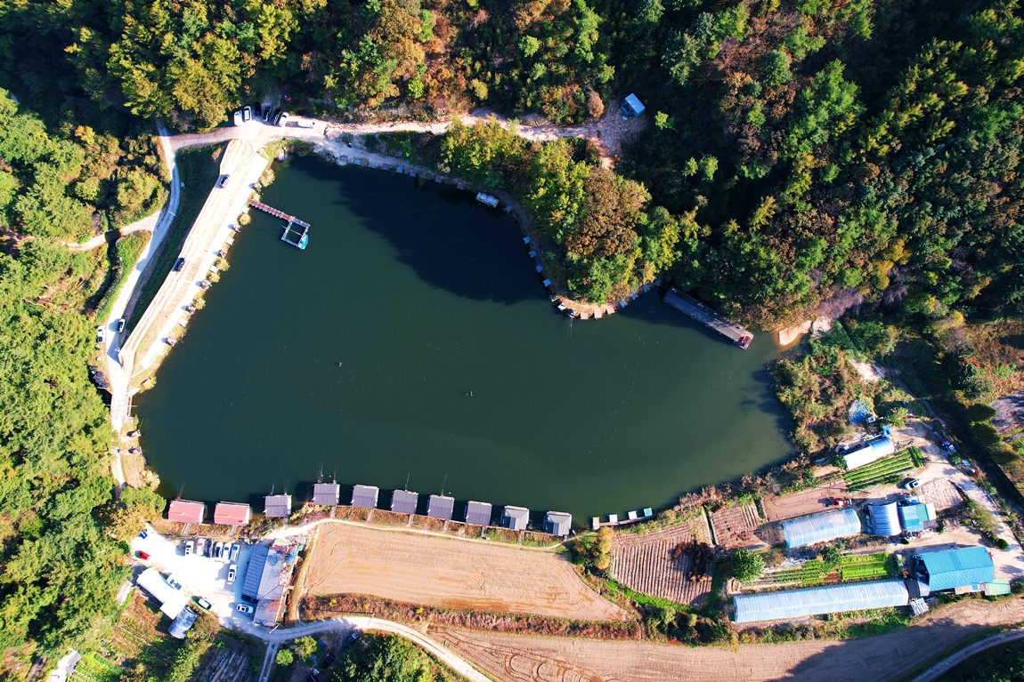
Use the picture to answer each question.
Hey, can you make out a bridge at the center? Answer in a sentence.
No, I see no bridge at the center.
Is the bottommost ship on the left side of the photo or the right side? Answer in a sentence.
The bottommost ship appears in the right half of the scene.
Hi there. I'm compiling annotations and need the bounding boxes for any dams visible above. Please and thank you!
[120,139,267,379]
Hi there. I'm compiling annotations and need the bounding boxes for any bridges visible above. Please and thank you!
[100,386,139,425]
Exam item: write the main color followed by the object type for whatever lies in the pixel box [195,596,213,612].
white car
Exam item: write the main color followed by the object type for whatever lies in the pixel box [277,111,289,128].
white vehicle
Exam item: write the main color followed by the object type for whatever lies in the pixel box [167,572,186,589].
white vehicle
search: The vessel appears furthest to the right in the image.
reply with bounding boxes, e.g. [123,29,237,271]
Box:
[659,285,752,350]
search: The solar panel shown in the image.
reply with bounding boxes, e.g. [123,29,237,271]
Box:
[244,551,267,599]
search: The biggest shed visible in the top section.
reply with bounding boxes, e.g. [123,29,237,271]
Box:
[616,93,645,122]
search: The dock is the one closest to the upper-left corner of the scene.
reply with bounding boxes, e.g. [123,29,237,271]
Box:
[249,198,311,247]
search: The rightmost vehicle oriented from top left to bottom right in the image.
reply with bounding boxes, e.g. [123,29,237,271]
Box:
[943,439,960,457]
